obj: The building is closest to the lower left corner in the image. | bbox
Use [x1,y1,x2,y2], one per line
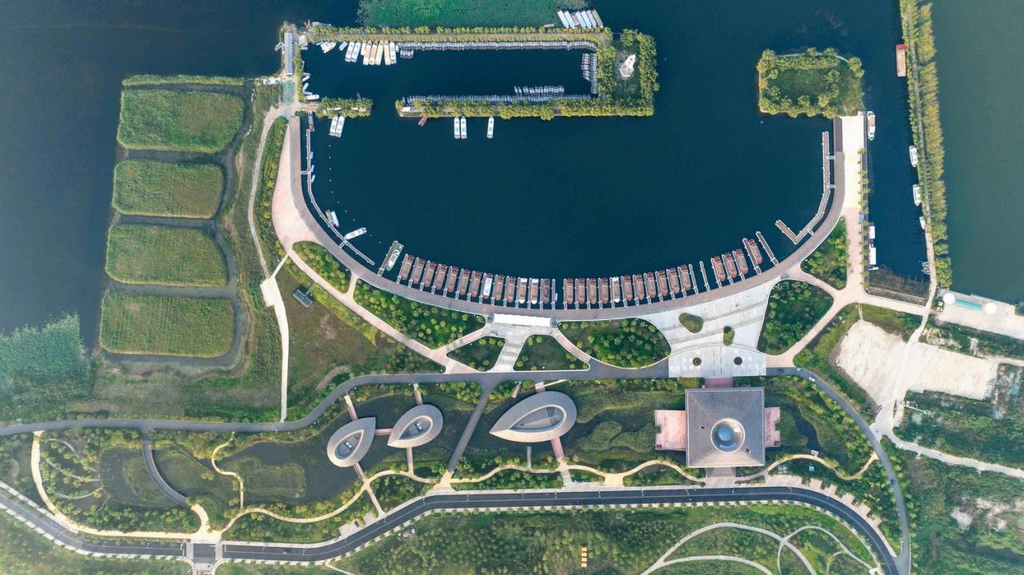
[327,417,376,467]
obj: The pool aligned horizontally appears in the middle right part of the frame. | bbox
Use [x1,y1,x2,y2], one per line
[955,299,983,311]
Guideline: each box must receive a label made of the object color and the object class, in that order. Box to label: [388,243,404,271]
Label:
white boat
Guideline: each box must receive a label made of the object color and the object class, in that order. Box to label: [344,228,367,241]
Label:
white boat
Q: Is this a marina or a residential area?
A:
marina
